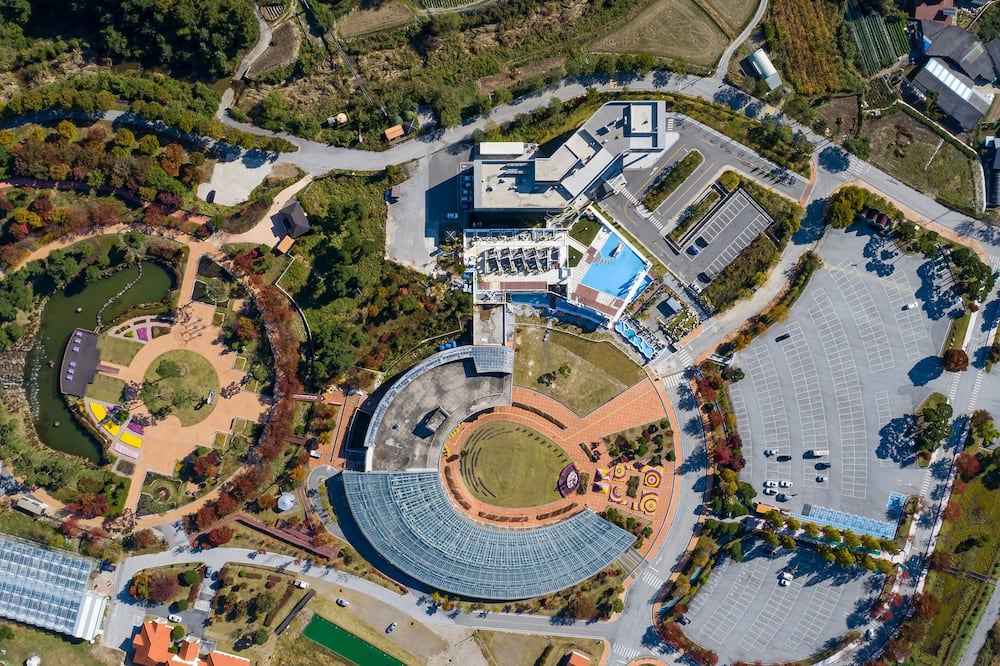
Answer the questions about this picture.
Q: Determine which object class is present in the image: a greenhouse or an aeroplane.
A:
greenhouse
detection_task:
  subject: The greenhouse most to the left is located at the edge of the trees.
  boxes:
[0,533,95,637]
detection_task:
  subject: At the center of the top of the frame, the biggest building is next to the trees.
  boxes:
[474,101,666,215]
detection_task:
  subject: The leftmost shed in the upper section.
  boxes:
[271,202,312,240]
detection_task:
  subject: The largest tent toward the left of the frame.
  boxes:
[278,490,299,510]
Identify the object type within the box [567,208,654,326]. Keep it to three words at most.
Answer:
swimming pool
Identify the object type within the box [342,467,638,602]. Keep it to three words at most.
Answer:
greenhouse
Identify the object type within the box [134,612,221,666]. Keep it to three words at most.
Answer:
house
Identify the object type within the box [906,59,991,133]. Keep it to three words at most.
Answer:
barn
